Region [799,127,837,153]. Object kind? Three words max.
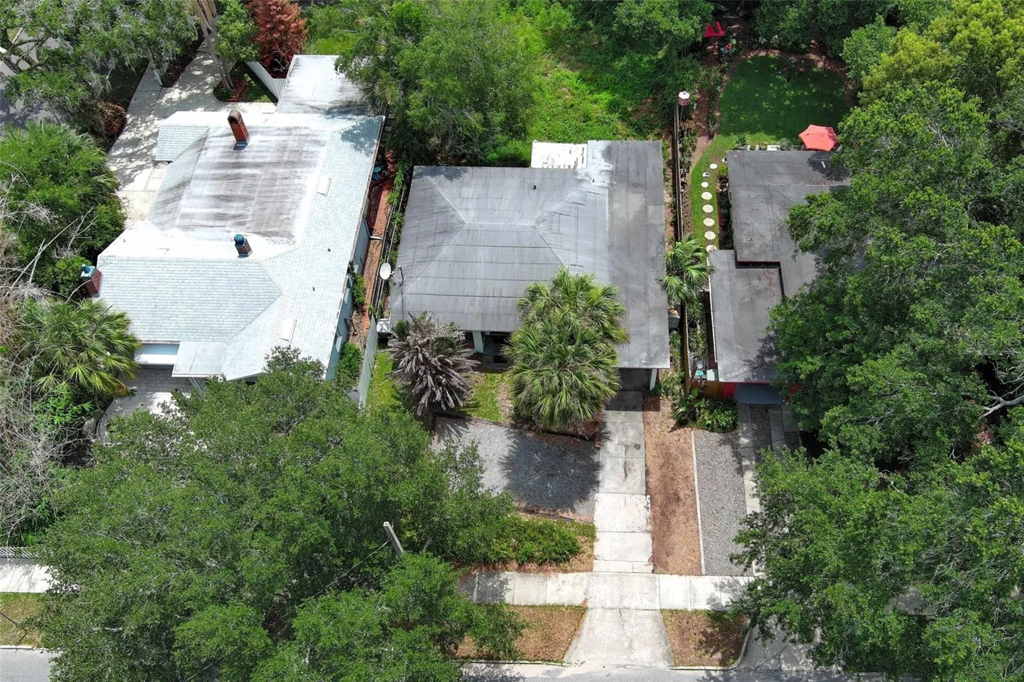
umbrella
